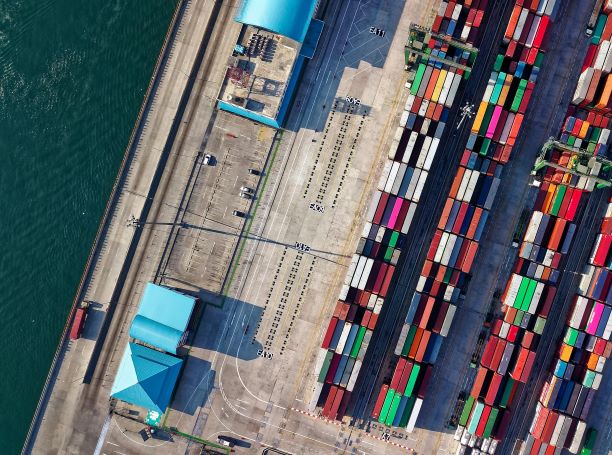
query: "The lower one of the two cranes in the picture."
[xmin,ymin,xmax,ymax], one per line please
[528,132,612,195]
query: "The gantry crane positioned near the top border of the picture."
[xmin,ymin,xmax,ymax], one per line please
[402,19,481,92]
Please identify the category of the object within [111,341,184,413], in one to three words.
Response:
building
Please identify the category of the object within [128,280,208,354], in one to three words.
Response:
building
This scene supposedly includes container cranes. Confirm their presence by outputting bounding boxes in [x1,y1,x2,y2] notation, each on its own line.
[402,19,481,92]
[528,132,612,195]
